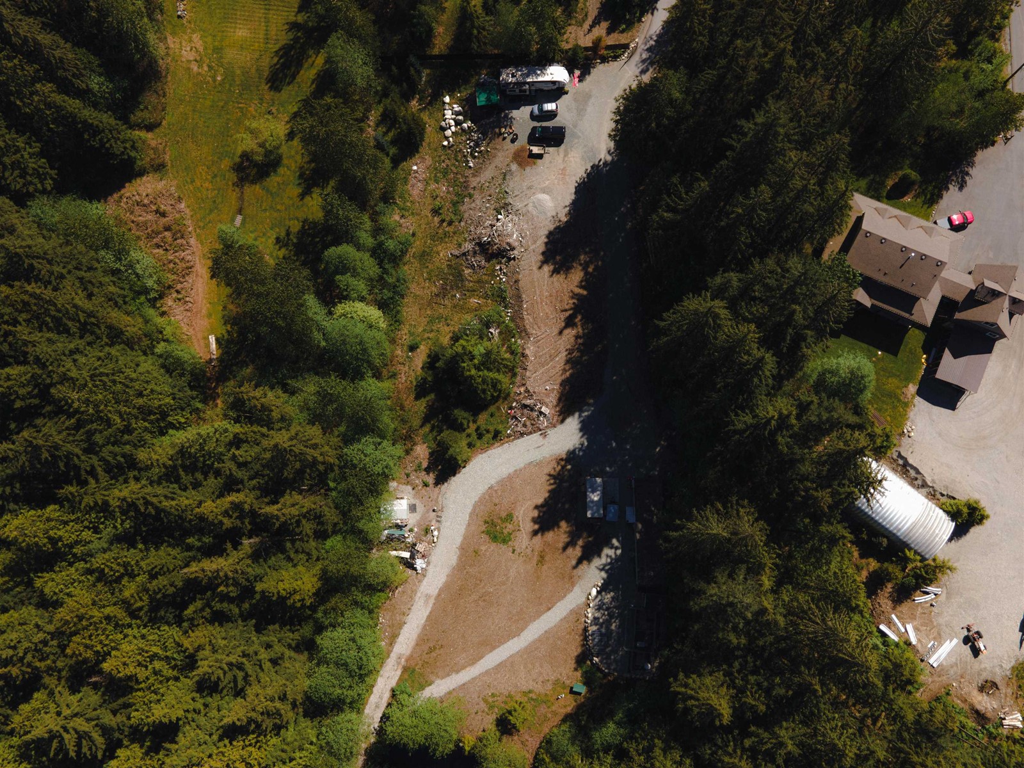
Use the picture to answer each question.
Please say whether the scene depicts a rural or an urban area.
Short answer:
rural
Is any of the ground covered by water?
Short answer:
No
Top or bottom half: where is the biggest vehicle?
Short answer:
top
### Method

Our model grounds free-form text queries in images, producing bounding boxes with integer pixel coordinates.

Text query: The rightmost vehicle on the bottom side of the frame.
[967,624,988,654]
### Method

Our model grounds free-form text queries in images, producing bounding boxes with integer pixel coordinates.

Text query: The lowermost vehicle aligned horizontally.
[934,212,971,228]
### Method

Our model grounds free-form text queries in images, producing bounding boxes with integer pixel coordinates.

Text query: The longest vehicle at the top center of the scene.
[500,66,568,97]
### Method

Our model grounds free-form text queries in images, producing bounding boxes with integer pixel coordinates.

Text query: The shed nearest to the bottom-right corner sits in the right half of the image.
[853,459,960,559]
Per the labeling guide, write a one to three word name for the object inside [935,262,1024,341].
building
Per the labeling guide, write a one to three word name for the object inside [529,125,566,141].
vehicle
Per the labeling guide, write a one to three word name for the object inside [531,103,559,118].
car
